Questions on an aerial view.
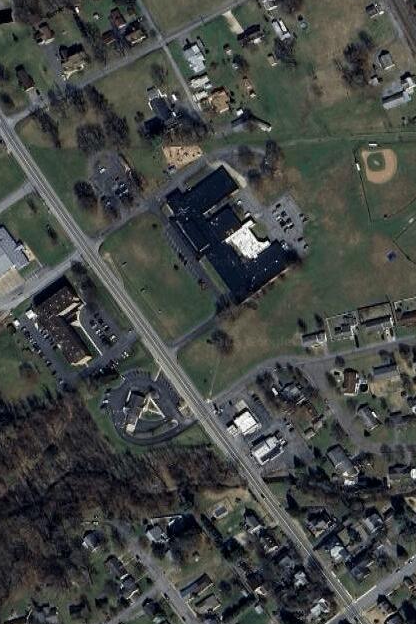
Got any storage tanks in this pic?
No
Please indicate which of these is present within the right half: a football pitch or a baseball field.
baseball field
